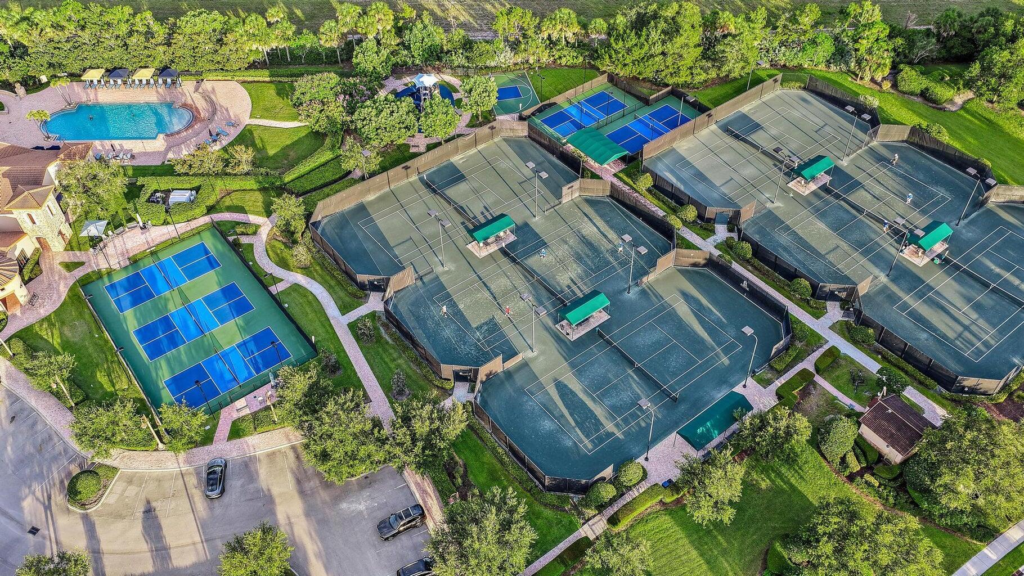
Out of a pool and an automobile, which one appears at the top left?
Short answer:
pool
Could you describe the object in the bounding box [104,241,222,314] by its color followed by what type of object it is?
blue sports court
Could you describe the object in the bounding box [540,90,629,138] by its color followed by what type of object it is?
blue sports court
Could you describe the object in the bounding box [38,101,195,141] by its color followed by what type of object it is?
blue swimming pool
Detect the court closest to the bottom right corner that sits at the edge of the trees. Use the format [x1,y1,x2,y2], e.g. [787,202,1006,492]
[861,202,1024,382]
